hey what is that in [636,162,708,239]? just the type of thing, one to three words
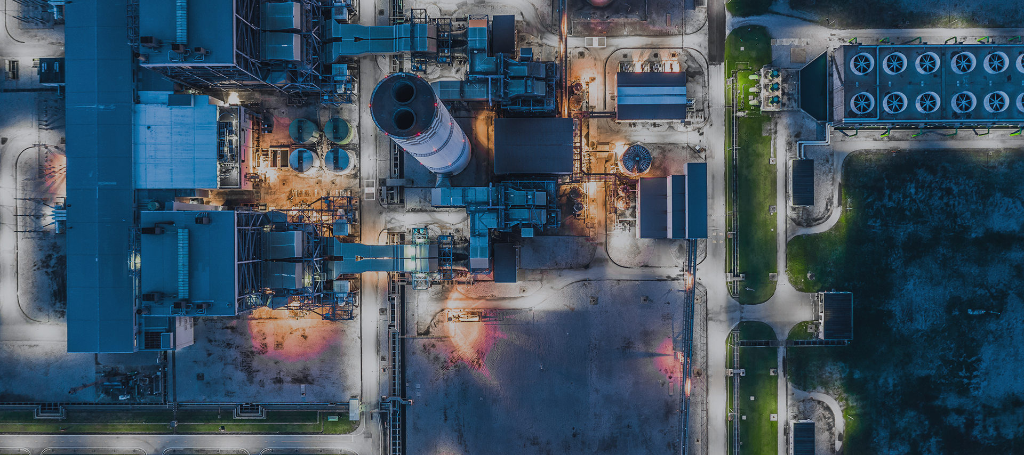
building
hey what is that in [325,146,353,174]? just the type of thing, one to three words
water tank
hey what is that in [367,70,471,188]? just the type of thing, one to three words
chimney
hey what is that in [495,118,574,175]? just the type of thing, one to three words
shed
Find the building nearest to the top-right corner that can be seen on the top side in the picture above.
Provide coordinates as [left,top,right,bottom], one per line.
[758,68,801,112]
